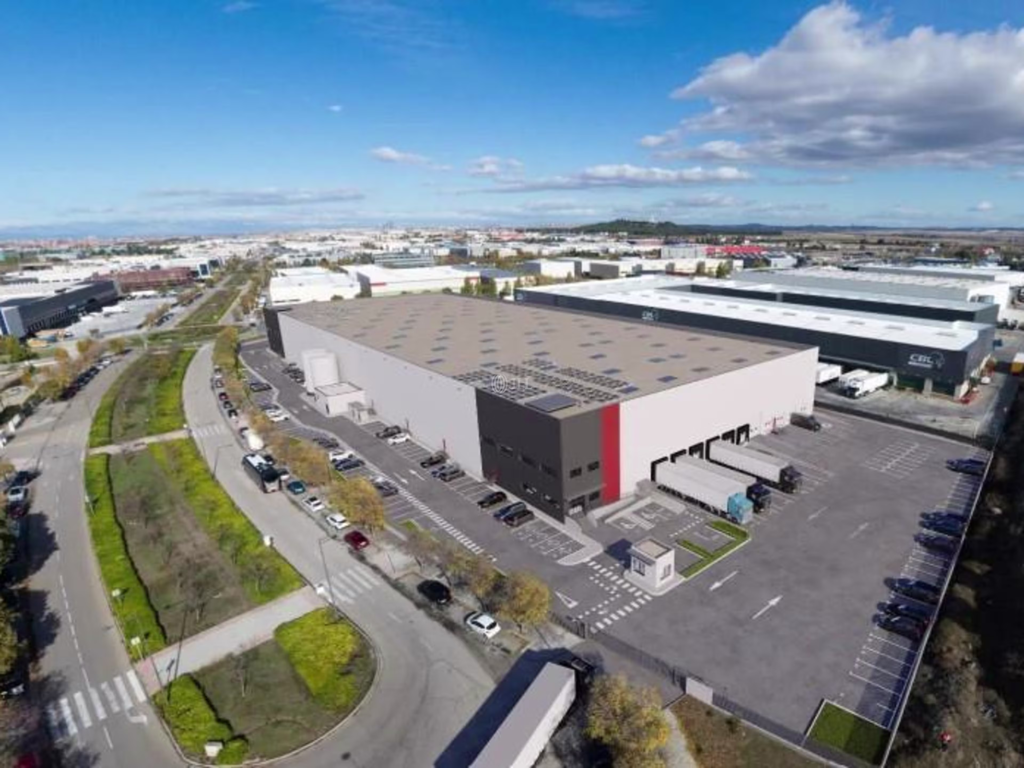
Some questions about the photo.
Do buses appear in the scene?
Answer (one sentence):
Yes, there's a bus down there.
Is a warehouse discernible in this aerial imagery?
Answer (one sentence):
Yes, the photo shows a warehouse.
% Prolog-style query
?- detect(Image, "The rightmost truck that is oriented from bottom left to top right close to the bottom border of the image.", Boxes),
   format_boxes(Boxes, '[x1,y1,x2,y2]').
[477,659,599,768]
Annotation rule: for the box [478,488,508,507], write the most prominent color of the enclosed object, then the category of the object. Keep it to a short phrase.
black car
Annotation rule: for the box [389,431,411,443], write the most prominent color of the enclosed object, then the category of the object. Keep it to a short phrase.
white vehicle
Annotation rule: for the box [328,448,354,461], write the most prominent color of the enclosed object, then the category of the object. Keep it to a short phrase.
white vehicle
